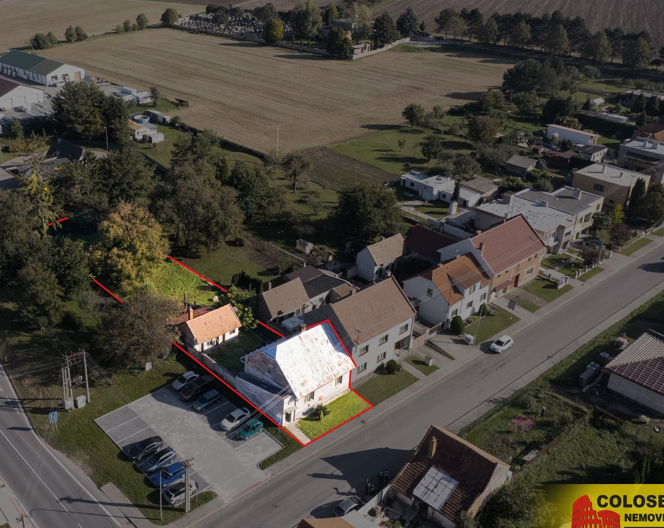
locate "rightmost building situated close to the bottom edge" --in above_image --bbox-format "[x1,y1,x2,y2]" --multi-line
[388,424,524,528]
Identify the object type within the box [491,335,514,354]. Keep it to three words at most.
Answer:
car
